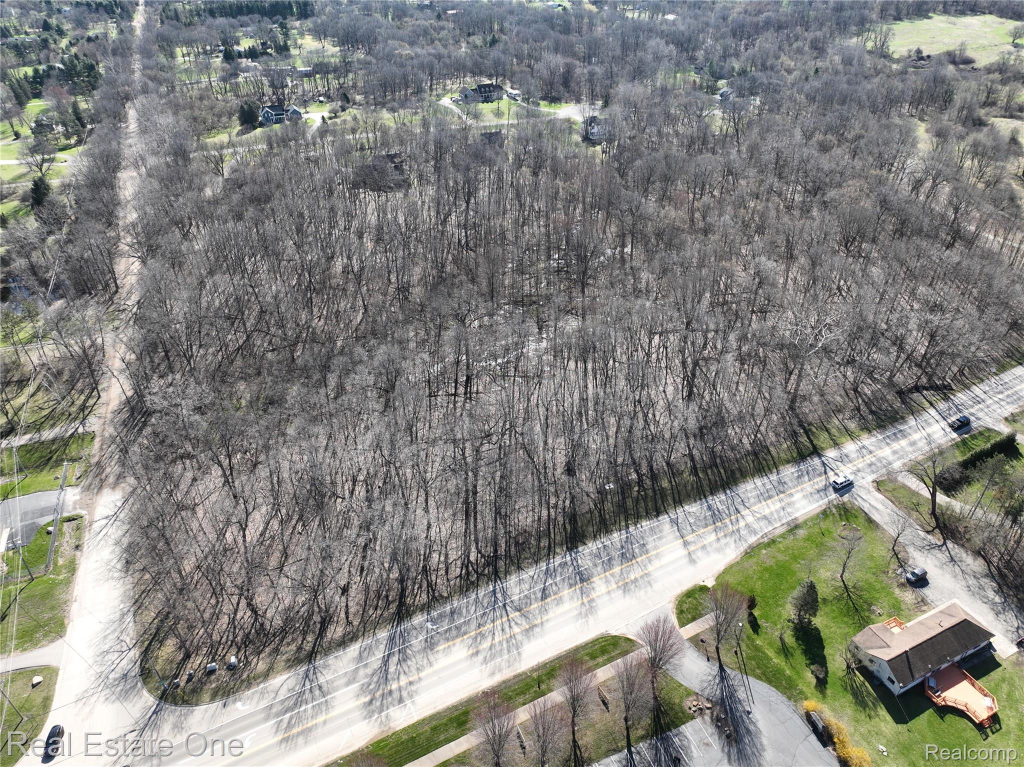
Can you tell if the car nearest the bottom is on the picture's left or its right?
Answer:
left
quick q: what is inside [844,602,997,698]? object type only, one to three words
house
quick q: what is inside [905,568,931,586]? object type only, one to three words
car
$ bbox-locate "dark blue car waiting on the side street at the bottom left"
[32,726,69,761]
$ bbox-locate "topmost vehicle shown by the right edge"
[950,419,973,432]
